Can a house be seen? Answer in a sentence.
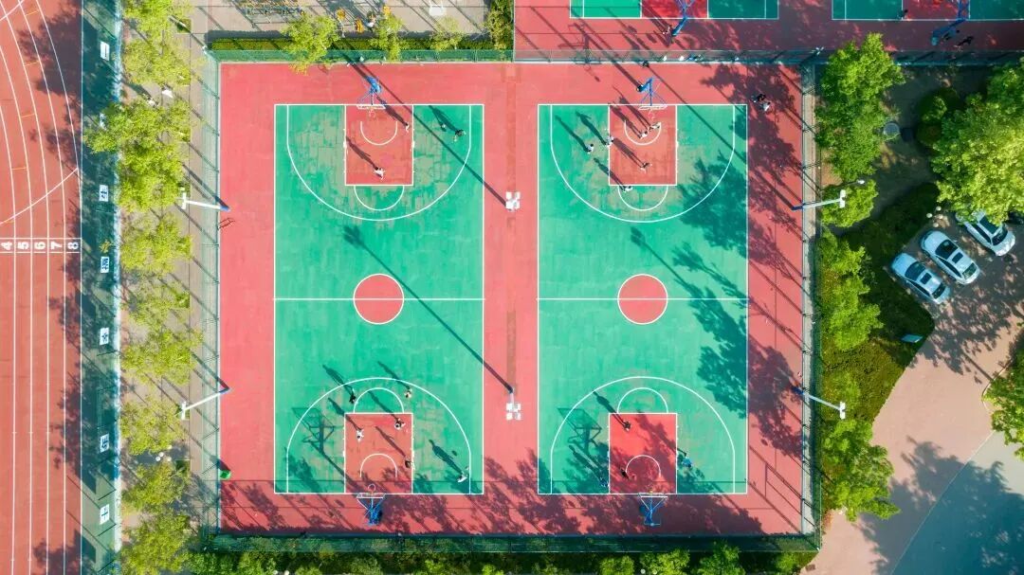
No, no house is visible in the view.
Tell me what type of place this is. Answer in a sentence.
This image shows a sports ground.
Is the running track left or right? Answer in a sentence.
The running track is on the left side of the image.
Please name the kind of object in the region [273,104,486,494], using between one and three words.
basketball court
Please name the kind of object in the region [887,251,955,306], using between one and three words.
car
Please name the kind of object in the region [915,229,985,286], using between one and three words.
car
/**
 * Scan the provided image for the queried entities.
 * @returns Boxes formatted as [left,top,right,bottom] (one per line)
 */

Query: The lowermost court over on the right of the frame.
[536,104,749,494]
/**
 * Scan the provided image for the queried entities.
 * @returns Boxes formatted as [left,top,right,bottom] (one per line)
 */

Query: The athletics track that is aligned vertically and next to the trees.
[0,0,82,575]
